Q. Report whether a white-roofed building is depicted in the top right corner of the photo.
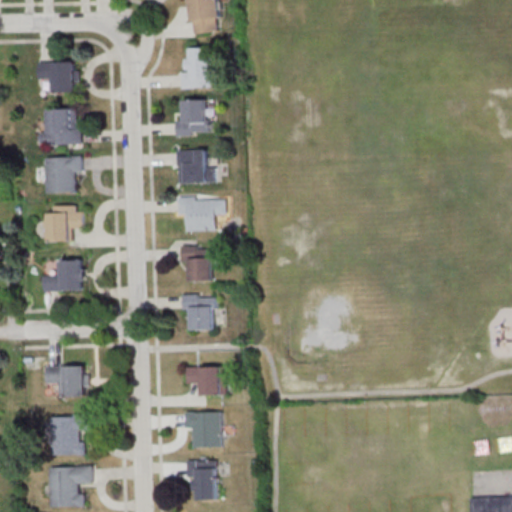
No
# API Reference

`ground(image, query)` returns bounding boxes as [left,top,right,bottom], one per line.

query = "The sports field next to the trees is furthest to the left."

[281,404,466,512]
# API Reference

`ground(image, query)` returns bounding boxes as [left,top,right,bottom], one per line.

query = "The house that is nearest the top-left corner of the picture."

[36,60,78,91]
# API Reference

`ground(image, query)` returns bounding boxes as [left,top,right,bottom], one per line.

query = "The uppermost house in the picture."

[188,0,222,34]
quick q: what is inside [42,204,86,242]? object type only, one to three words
house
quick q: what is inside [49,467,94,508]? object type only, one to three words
house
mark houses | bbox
[188,460,220,501]
[49,467,94,508]
[185,367,226,396]
[178,150,218,183]
[42,204,86,242]
[44,156,84,193]
[44,367,88,397]
[182,246,213,280]
[178,197,227,232]
[188,0,222,34]
[176,100,212,136]
[185,412,225,448]
[42,261,84,292]
[50,418,84,456]
[182,295,218,332]
[36,60,78,91]
[180,47,211,90]
[38,108,81,144]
